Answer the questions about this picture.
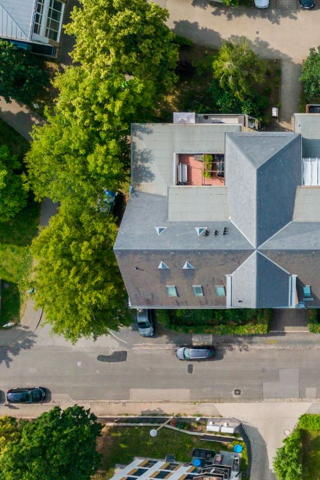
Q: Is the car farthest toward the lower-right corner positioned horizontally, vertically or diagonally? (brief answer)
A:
horizontally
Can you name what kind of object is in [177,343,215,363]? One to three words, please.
car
